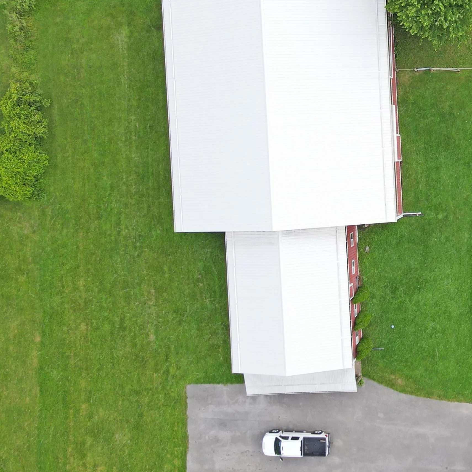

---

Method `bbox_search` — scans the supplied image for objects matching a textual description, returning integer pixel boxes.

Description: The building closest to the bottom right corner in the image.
[223,226,372,397]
